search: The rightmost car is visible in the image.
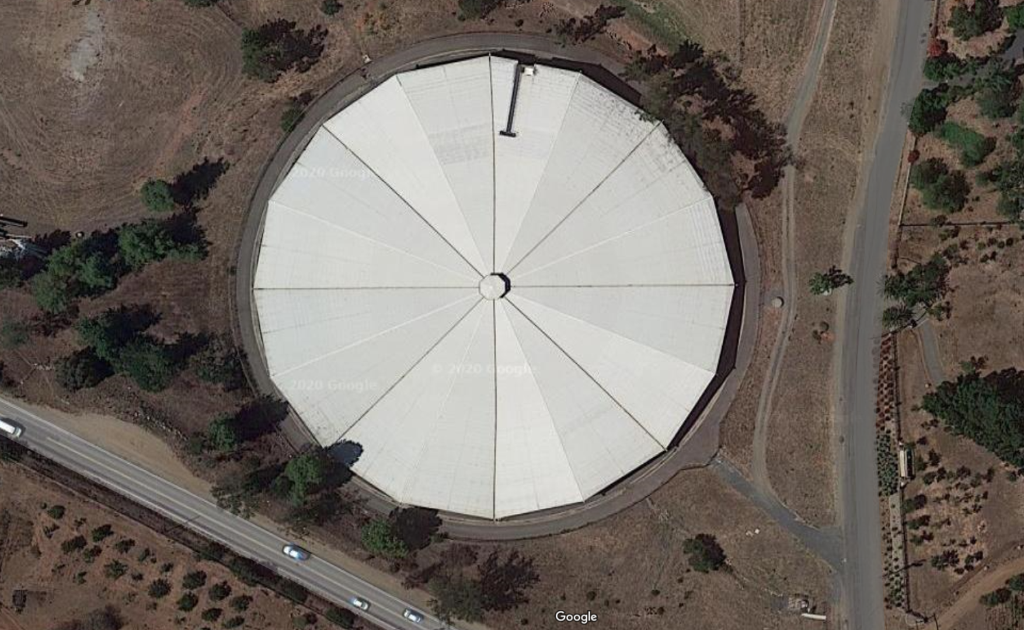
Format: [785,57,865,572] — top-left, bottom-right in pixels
[403,608,423,622]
